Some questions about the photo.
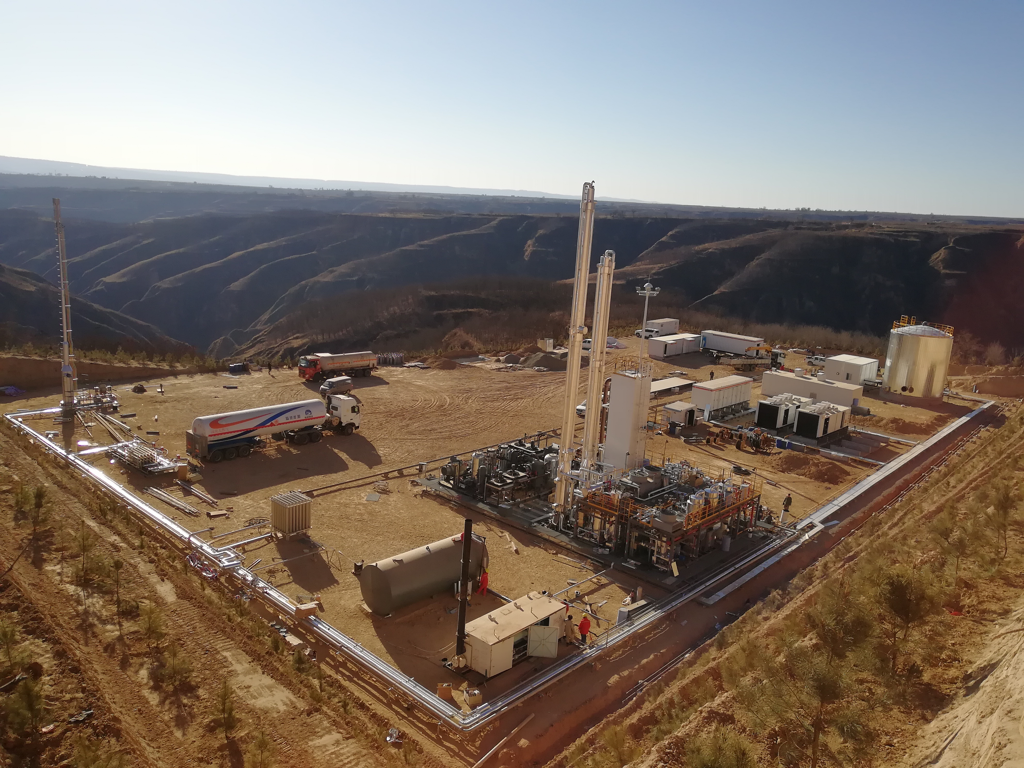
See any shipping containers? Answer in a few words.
Yes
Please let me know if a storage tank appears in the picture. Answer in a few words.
Yes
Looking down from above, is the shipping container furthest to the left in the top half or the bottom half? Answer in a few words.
bottom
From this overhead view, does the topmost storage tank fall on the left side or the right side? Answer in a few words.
right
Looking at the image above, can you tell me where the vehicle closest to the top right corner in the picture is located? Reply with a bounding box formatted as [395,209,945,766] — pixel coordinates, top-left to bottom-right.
[800,351,832,364]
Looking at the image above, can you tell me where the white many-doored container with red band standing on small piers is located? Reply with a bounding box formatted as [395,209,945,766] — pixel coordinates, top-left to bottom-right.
[693,372,753,411]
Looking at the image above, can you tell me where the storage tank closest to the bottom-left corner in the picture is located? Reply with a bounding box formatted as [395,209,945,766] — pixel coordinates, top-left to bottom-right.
[362,530,489,618]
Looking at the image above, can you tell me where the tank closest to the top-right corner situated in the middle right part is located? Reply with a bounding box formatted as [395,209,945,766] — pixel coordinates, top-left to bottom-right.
[877,319,956,408]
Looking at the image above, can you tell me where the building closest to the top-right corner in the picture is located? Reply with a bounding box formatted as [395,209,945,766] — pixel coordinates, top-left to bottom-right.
[827,353,882,384]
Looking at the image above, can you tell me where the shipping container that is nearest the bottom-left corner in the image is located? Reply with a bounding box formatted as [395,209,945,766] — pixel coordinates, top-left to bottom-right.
[454,589,569,683]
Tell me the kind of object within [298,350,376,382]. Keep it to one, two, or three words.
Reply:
truck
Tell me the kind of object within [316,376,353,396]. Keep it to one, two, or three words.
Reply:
vehicle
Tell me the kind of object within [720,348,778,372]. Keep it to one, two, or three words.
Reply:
truck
